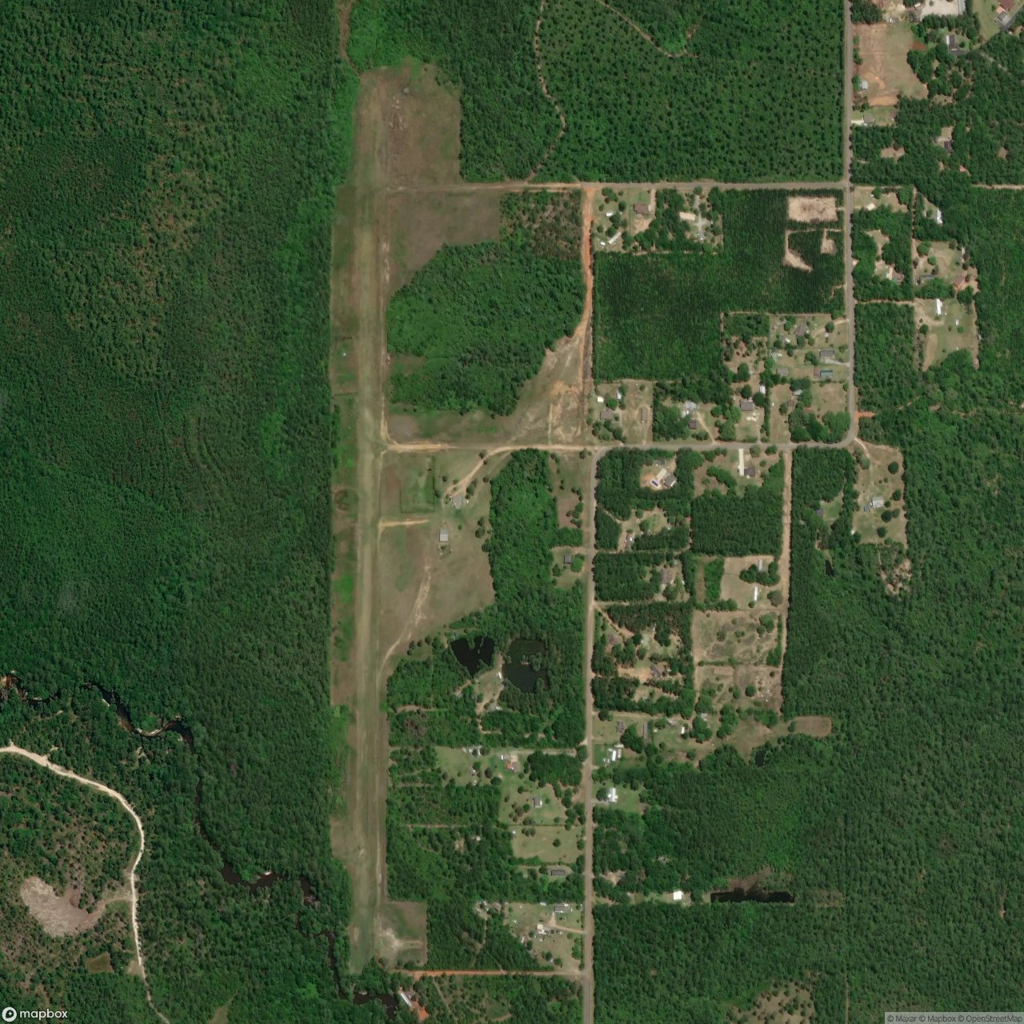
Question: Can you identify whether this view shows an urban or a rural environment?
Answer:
rural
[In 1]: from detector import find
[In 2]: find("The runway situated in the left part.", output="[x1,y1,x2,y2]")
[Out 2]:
[328,58,490,972]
